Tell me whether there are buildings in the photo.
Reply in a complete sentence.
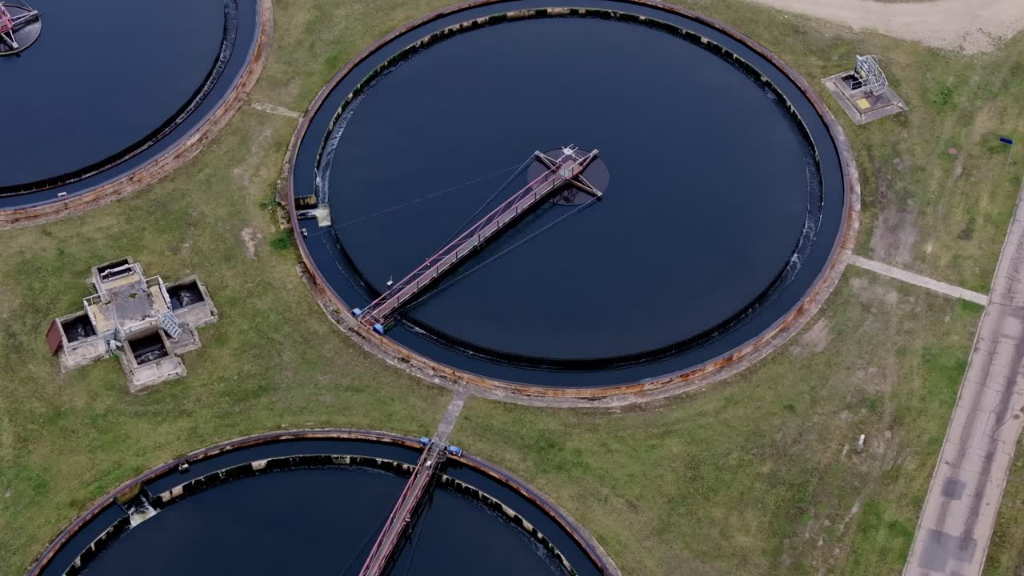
No, there appears to be no building in this shot.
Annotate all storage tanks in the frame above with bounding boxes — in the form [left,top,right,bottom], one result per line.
[276,0,861,408]
[0,0,276,228]
[21,427,622,576]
